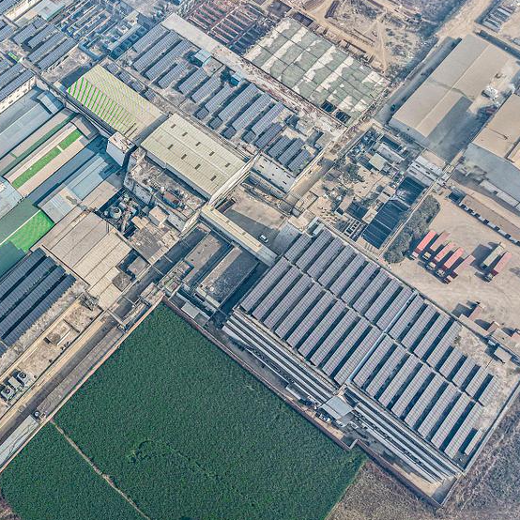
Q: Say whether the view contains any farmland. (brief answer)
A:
Yes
